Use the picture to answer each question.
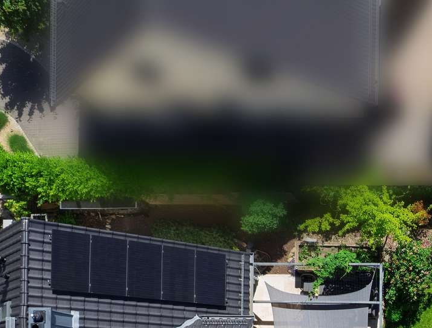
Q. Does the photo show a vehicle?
No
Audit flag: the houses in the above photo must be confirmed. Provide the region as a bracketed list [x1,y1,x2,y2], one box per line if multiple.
[0,215,260,328]
[51,0,380,136]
